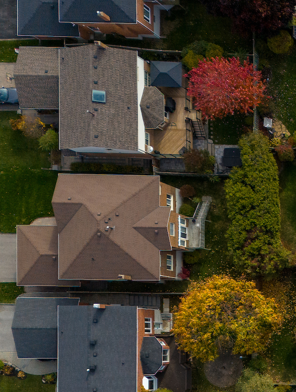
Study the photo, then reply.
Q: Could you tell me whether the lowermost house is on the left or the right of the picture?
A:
left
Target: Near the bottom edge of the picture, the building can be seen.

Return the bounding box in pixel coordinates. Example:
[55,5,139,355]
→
[6,297,170,392]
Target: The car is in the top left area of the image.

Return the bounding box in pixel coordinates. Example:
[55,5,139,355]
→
[0,87,15,104]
